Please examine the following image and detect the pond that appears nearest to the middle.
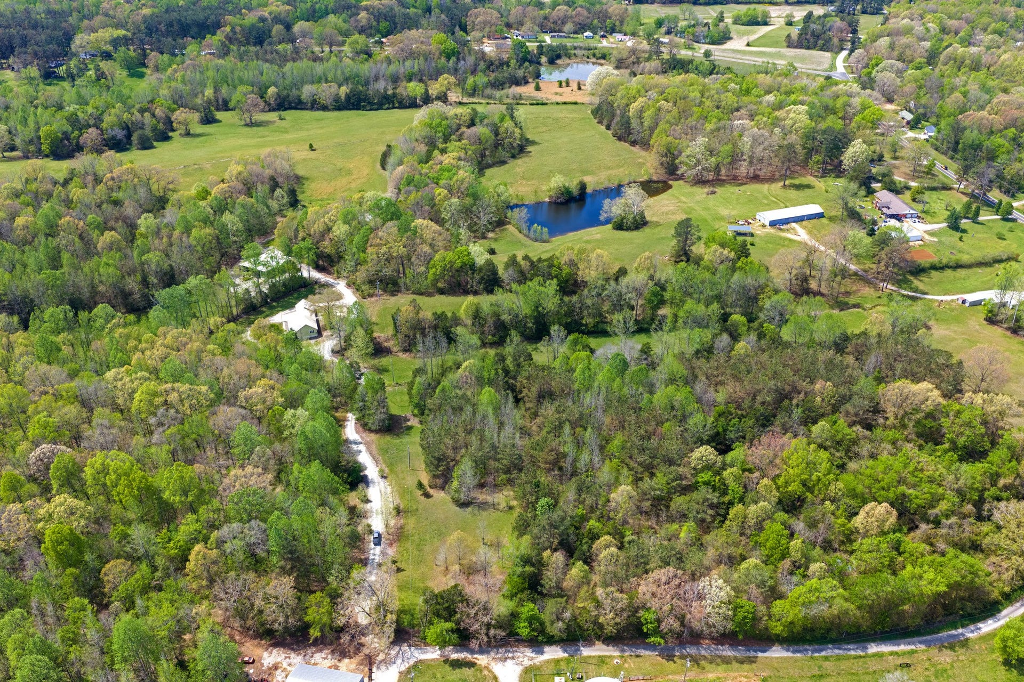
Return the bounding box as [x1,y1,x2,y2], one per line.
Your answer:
[500,179,677,240]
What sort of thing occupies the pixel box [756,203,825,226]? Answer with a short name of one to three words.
shed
